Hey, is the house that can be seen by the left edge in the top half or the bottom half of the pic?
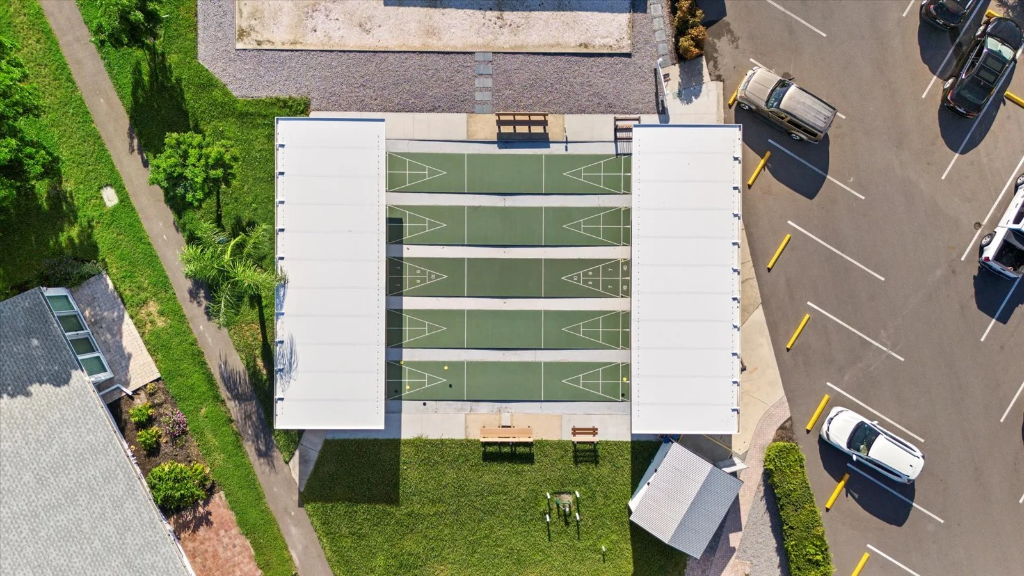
bottom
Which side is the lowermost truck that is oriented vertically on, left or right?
right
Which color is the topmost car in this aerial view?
black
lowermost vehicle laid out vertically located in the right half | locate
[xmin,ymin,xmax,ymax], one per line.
[976,181,1024,287]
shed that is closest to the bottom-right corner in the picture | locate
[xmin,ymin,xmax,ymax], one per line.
[625,436,742,555]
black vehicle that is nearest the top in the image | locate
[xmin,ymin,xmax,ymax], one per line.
[923,0,977,35]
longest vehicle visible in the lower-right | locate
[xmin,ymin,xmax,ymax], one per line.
[818,407,924,483]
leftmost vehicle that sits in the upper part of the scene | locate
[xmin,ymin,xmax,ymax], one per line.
[730,66,841,145]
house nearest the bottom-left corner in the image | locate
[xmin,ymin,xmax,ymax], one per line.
[0,286,199,576]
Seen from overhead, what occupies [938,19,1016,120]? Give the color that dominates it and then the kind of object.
black car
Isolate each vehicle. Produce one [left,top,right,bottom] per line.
[730,66,841,145]
[923,0,977,35]
[938,19,1016,120]
[818,407,924,483]
[976,181,1024,287]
